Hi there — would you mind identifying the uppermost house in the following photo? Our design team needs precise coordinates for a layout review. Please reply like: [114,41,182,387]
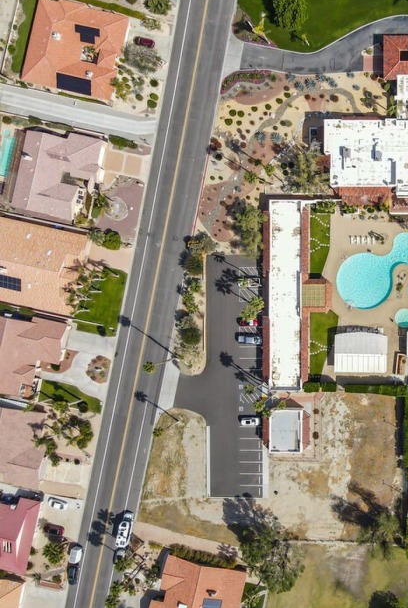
[21,0,132,108]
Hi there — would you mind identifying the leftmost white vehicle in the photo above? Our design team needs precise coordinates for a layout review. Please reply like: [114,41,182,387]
[44,497,66,510]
